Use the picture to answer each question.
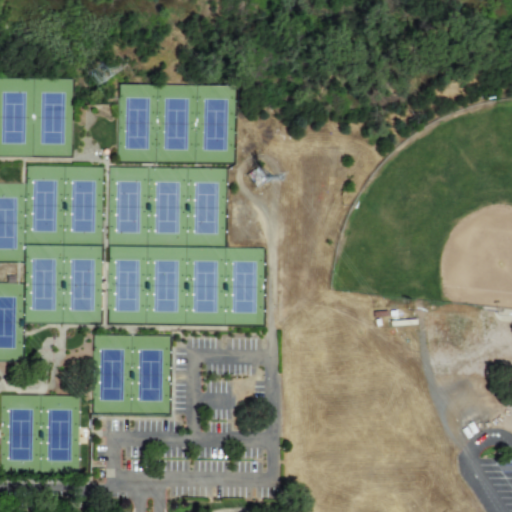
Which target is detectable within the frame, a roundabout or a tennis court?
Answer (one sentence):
It is a tennis court that can be seen here.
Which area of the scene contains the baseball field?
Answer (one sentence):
Look in the right portion of the view to spot the baseball field.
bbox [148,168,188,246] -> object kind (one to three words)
tennis court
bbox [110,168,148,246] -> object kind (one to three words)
tennis court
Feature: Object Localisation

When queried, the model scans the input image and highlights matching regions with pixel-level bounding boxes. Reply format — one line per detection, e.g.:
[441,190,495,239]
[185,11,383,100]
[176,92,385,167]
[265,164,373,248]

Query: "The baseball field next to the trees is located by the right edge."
[332,100,512,308]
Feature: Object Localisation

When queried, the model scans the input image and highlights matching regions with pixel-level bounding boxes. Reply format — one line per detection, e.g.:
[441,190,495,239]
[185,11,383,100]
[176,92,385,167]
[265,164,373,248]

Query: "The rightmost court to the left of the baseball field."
[226,247,266,325]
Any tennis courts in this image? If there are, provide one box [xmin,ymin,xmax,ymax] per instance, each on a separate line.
[0,78,34,156]
[41,395,81,473]
[226,247,266,325]
[93,336,132,414]
[0,395,41,472]
[186,246,226,324]
[148,246,187,324]
[0,183,26,262]
[26,166,66,244]
[26,244,64,323]
[120,84,158,162]
[187,168,226,246]
[34,79,74,156]
[109,246,148,324]
[156,85,198,162]
[148,168,188,246]
[110,168,148,246]
[64,245,103,323]
[64,166,104,245]
[132,336,171,414]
